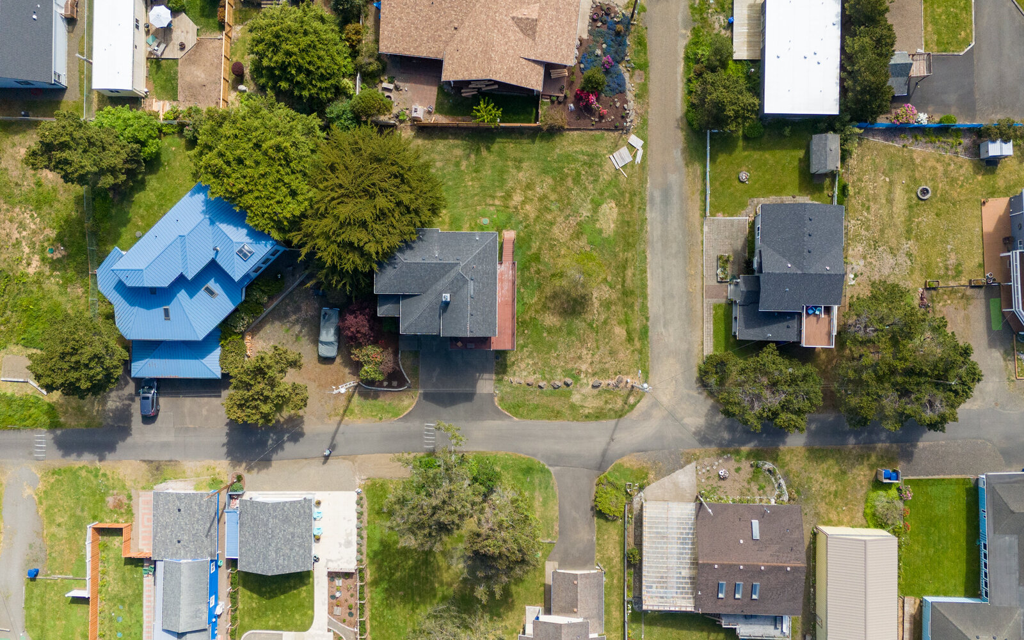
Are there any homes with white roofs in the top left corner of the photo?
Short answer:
Yes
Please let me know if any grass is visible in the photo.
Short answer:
Yes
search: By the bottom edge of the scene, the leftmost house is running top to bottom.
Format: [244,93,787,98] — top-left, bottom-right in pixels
[152,490,222,640]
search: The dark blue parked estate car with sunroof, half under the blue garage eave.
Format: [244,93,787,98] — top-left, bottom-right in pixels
[137,379,162,418]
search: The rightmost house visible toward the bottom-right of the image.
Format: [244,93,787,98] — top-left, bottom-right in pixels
[922,471,1024,640]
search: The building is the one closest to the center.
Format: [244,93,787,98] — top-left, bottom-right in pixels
[374,228,516,351]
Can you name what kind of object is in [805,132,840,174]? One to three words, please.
shed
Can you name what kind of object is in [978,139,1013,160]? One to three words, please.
shed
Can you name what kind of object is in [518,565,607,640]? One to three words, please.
house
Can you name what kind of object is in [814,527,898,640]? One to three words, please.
building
